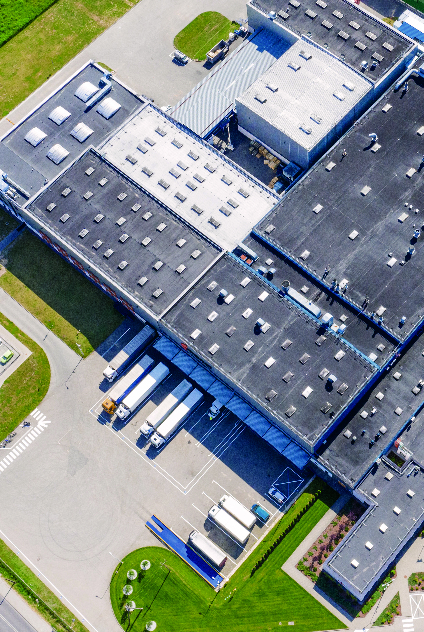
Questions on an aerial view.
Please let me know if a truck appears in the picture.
Yes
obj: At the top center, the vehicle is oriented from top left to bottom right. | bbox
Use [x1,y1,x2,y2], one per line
[173,49,189,64]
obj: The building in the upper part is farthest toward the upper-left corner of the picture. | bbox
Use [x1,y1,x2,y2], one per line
[0,60,145,227]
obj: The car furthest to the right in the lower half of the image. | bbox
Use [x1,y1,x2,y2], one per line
[270,487,286,502]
